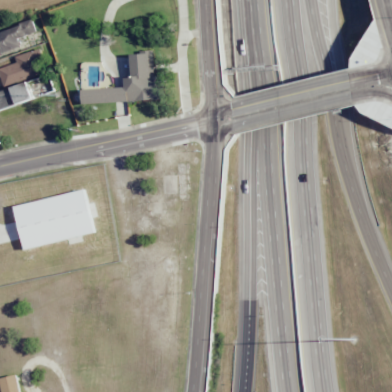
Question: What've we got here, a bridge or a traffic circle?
bridge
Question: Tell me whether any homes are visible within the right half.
No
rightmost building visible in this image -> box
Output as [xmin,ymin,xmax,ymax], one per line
[79,54,154,105]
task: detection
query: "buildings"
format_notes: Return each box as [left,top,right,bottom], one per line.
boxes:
[0,20,38,53]
[12,190,99,250]
[0,376,22,392]
[0,50,38,88]
[0,78,58,112]
[79,54,154,105]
